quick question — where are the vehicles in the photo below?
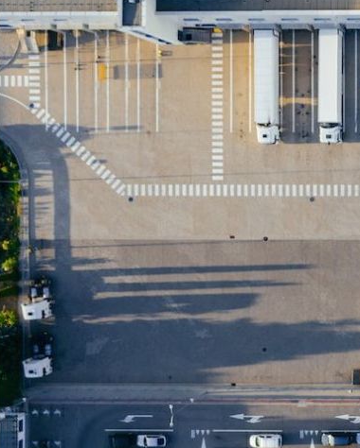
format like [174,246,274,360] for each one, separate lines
[319,31,343,145]
[255,31,281,145]
[139,433,167,448]
[25,281,58,326]
[110,433,140,448]
[26,337,60,383]
[323,431,353,447]
[250,433,283,448]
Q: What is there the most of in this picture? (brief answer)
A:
paved ground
